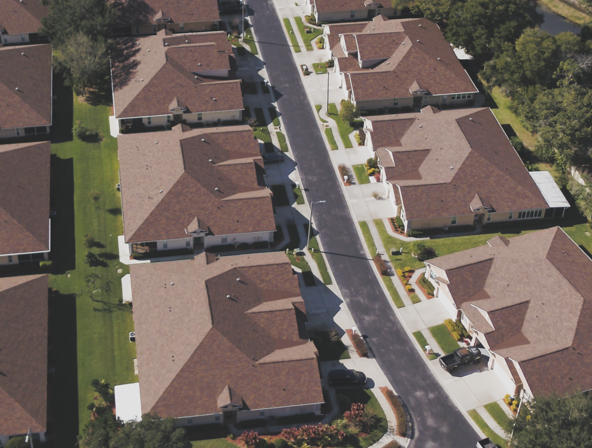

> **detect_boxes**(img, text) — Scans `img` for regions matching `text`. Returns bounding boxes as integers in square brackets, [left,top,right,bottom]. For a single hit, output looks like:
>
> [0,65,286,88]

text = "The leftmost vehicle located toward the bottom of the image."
[329,366,368,386]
